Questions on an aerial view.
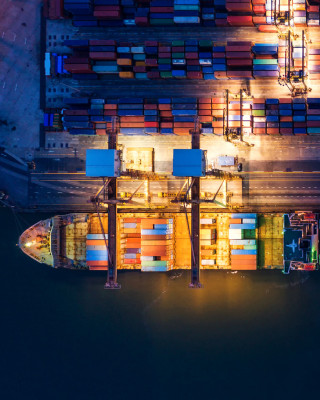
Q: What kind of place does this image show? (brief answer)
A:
port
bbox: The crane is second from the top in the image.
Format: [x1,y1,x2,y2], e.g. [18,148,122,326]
[286,29,314,96]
